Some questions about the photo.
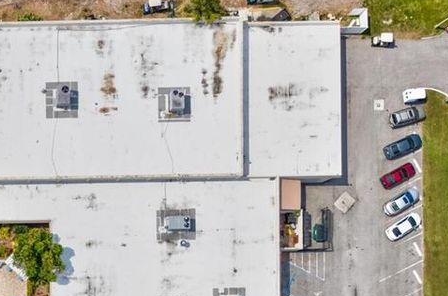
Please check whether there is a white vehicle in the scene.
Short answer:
Yes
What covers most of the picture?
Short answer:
buildings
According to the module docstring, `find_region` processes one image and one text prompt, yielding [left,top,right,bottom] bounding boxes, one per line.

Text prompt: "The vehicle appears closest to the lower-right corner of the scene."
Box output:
[383,213,423,242]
